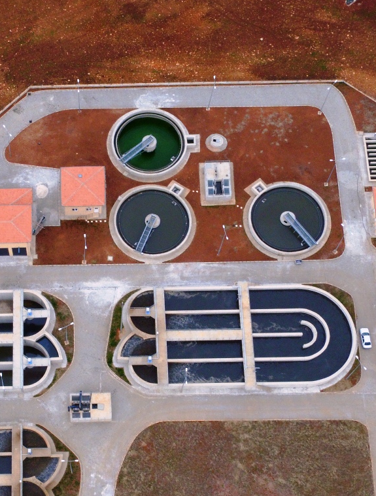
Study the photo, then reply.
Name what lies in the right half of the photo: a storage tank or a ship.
storage tank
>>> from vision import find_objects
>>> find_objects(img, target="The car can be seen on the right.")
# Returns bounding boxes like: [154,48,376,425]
[361,327,374,348]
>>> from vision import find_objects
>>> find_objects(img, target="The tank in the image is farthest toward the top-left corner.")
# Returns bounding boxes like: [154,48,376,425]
[107,108,202,182]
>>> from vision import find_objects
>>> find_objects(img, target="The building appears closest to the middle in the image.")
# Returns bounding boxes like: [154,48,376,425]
[198,159,236,206]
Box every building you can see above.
[60,166,107,219]
[198,159,236,206]
[0,187,36,266]
[364,185,376,238]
